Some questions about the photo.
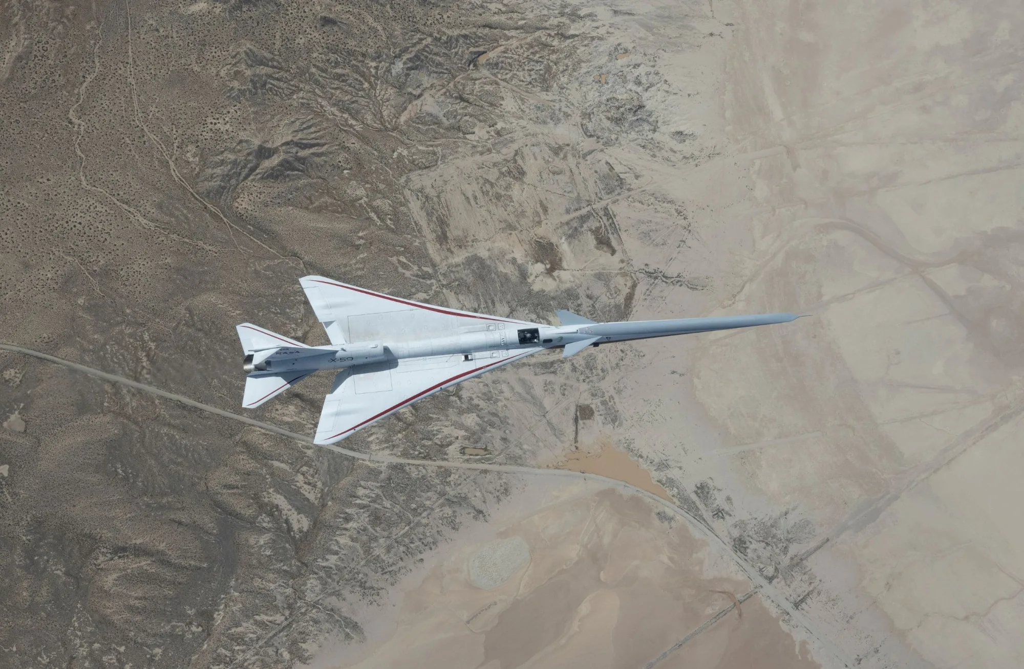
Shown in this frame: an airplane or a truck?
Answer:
airplane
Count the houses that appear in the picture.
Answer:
0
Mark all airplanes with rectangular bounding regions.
[237,274,813,444]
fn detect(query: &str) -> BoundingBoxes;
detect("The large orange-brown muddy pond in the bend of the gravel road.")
[561,443,671,500]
